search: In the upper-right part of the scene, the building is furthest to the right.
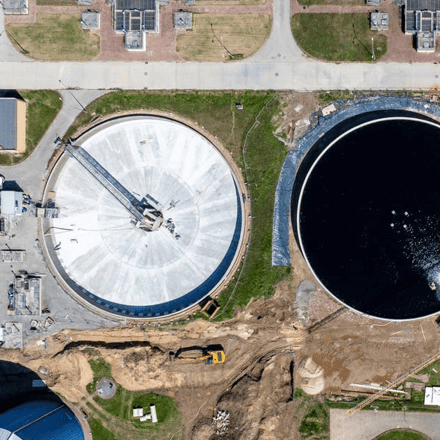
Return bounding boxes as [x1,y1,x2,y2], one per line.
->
[415,30,434,53]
